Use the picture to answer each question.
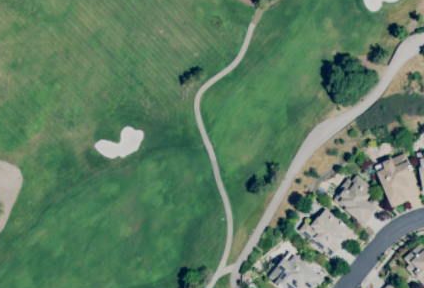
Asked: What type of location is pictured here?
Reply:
golf course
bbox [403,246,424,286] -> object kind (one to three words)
house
